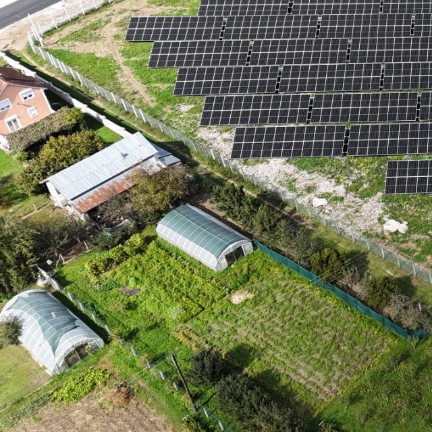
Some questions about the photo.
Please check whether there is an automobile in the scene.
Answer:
No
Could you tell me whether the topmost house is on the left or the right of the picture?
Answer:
left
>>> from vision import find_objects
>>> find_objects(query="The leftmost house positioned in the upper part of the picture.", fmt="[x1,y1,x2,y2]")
[0,50,55,133]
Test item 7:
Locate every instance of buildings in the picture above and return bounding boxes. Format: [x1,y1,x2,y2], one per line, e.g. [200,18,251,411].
[0,280,103,376]
[0,50,55,133]
[38,131,191,227]
[154,195,253,272]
